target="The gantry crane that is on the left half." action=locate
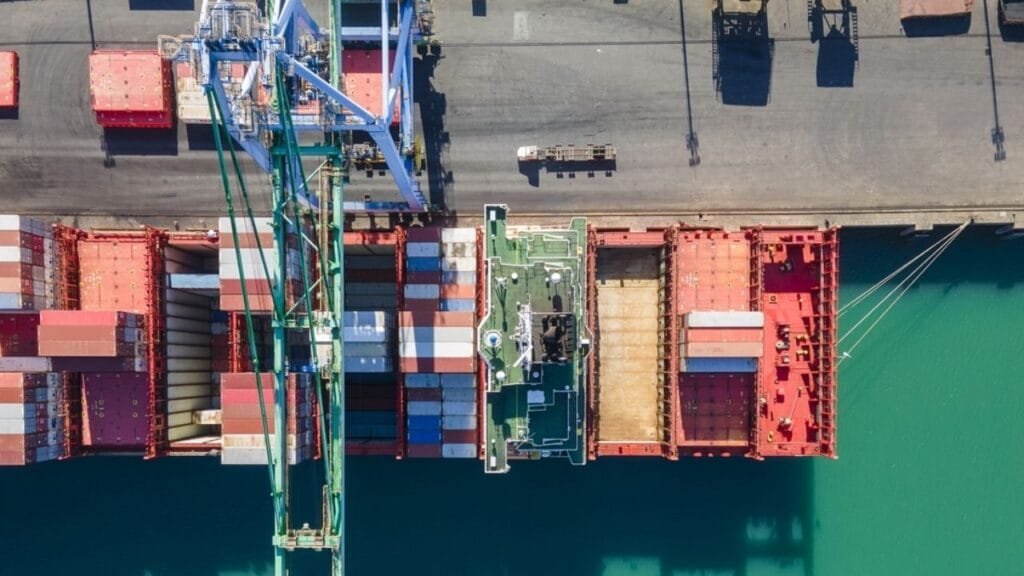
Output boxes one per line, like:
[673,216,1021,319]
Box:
[152,0,450,576]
